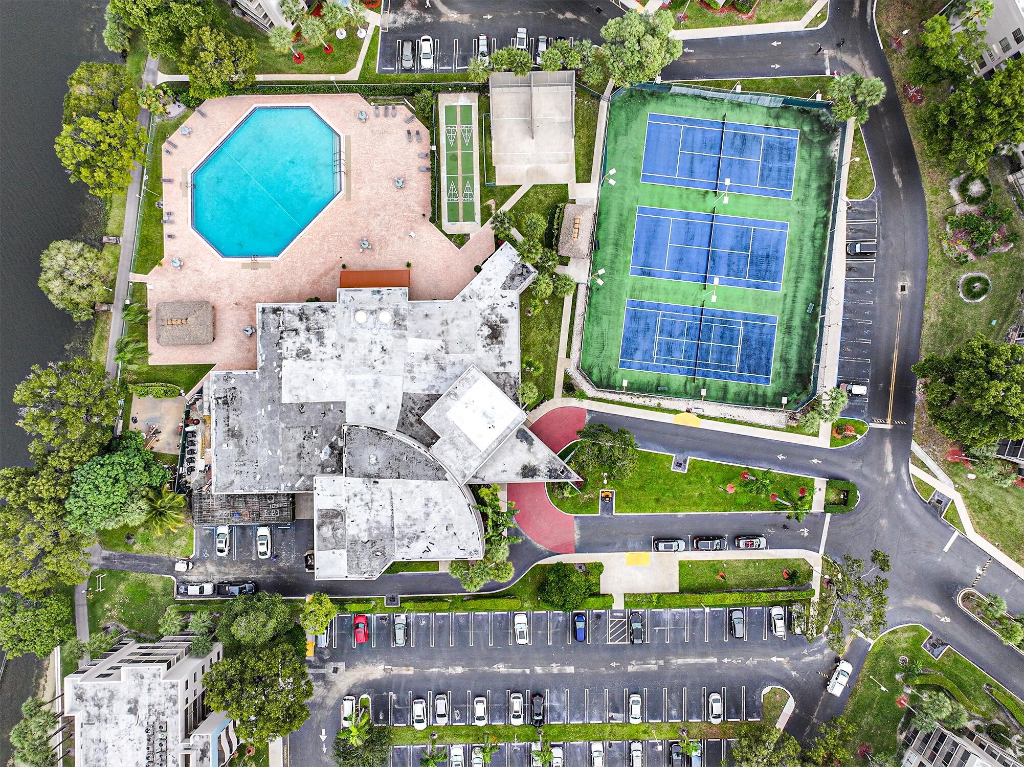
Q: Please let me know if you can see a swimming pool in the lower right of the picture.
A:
No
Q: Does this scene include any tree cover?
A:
Yes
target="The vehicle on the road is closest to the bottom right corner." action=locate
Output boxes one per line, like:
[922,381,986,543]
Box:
[826,660,854,700]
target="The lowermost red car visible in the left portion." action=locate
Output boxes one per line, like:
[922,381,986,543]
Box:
[354,613,368,643]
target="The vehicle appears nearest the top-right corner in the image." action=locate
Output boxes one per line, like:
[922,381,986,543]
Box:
[845,242,878,255]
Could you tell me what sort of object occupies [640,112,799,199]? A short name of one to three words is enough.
tennis court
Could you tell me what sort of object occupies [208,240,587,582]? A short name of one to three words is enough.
building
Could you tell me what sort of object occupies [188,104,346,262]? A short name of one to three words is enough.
swimming pool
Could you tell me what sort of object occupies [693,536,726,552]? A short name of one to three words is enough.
car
